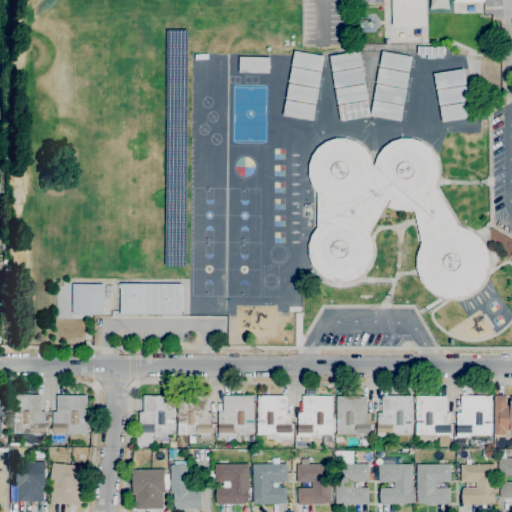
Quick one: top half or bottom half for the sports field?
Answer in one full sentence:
It is in the top half that the sports field appears.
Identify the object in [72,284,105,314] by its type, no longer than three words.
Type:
building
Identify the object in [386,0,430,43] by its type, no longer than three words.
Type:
building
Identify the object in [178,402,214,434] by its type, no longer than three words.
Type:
house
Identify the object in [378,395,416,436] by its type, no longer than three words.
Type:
house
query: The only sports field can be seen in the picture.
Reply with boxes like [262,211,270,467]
[0,0,304,346]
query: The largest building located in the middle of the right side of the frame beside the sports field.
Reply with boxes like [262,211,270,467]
[308,137,490,299]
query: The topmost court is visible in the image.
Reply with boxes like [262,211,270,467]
[234,85,268,144]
